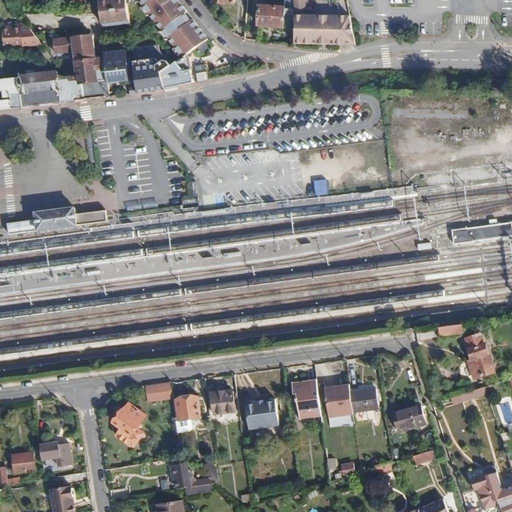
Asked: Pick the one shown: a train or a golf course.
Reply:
train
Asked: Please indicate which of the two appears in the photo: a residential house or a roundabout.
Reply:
residential house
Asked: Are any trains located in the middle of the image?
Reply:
Yes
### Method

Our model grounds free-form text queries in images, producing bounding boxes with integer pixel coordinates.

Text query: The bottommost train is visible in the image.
[0,323,188,356]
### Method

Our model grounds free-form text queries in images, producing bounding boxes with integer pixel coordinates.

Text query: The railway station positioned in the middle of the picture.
[0,184,483,363]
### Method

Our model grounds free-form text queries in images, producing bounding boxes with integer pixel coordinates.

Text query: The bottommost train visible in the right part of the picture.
[191,290,446,329]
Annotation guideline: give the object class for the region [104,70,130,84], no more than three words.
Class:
building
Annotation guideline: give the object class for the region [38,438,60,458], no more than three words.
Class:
house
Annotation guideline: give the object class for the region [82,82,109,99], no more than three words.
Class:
building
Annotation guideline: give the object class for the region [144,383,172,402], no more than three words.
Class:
house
